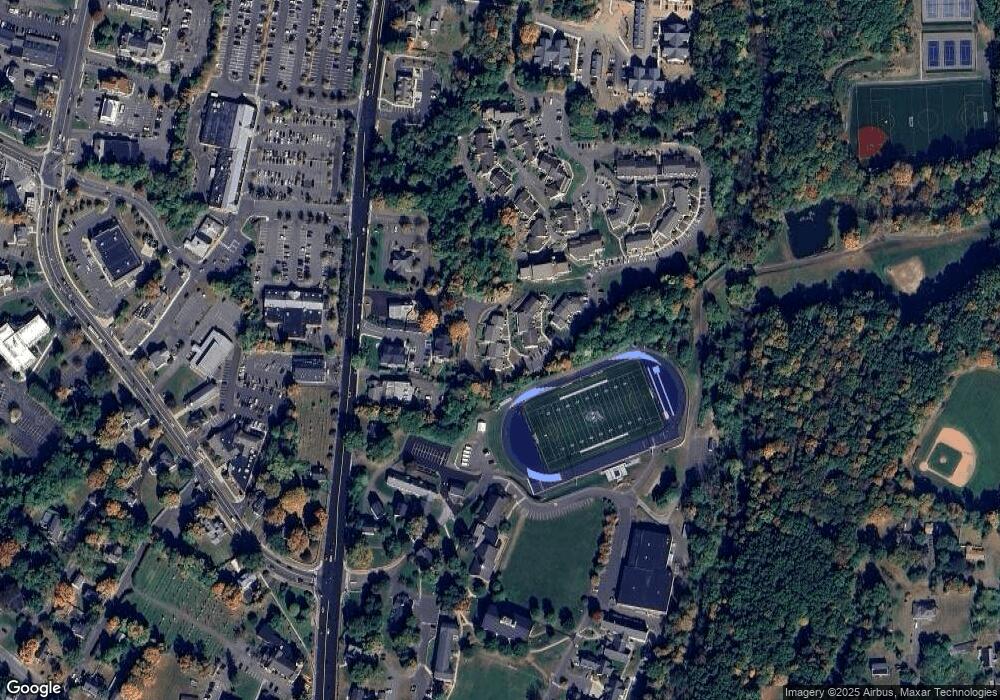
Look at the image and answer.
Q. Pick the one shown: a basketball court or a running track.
running track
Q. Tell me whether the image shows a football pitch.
Yes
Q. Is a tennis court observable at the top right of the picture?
Yes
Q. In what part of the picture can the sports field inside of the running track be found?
center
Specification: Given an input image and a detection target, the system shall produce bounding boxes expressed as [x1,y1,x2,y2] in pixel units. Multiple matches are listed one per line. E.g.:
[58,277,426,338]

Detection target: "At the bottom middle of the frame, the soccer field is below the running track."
[500,498,606,613]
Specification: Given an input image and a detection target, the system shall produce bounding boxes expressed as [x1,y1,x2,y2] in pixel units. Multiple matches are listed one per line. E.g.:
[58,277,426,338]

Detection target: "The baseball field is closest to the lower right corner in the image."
[914,361,1000,497]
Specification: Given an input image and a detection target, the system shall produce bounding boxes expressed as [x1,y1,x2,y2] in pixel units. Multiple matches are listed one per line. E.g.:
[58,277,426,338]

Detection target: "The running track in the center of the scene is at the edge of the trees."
[502,347,687,493]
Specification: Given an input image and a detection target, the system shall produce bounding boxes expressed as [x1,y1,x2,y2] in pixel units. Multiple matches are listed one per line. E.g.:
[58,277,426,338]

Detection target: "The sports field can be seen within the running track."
[523,360,663,471]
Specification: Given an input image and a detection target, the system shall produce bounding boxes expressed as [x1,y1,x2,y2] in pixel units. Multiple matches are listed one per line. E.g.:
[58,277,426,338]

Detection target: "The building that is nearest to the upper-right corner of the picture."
[662,24,690,62]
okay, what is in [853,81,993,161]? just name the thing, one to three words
sports field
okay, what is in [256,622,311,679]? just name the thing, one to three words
house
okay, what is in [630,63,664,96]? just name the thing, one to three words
building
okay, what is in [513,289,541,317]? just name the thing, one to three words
house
